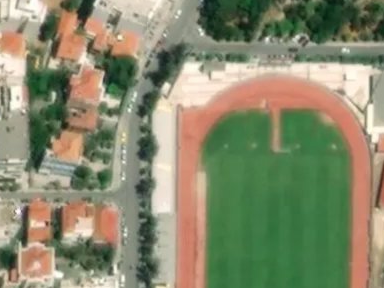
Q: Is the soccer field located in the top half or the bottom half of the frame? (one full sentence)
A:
The bottom half of the photo is where the soccer field is.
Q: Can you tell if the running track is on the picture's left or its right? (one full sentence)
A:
The running track appears in the right half of the scene.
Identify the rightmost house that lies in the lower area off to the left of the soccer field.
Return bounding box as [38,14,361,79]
[94,204,119,246]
